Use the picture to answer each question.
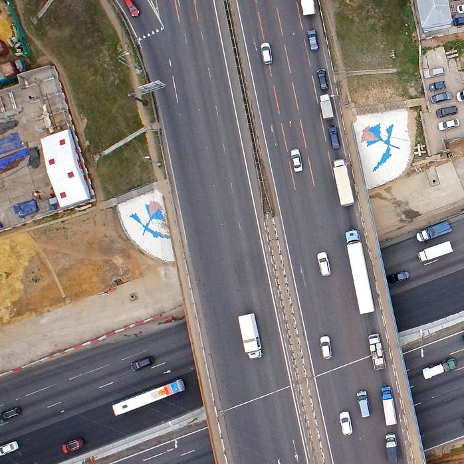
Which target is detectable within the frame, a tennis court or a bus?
bus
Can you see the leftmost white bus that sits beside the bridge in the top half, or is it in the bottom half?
bottom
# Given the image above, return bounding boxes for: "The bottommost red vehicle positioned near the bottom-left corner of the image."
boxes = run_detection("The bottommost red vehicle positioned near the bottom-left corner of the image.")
[60,437,86,454]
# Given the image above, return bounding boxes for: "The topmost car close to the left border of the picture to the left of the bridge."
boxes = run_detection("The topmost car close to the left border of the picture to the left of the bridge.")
[0,406,24,422]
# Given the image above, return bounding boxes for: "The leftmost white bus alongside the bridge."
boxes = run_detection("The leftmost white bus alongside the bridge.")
[111,375,191,417]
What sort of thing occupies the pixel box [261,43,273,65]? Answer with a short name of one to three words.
vehicle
